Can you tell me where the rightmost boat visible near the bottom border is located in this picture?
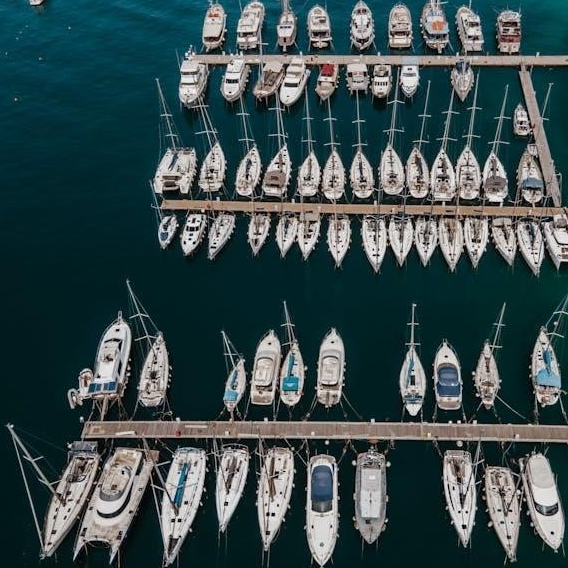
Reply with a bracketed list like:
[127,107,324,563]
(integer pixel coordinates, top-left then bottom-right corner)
[511,447,565,564]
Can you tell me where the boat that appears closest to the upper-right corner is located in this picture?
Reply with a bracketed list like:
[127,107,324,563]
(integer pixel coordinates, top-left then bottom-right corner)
[495,10,530,54]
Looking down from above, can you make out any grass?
No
